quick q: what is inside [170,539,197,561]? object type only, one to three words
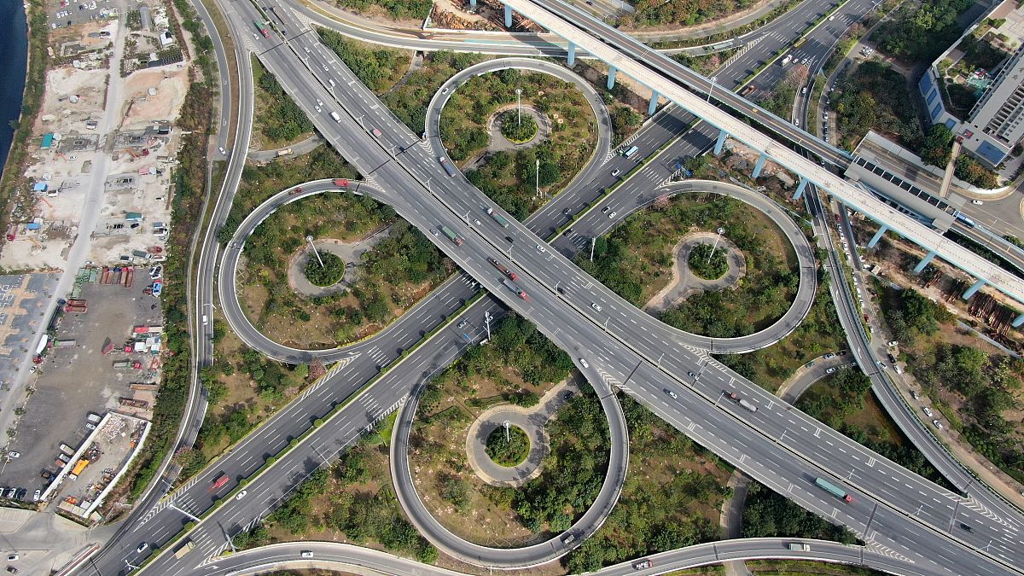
truck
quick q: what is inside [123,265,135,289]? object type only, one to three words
vehicle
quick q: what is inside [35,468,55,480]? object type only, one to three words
vehicle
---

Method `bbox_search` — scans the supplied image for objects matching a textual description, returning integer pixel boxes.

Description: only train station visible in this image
[834,149,967,253]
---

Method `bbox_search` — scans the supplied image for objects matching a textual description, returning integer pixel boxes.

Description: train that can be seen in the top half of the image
[952,211,973,233]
